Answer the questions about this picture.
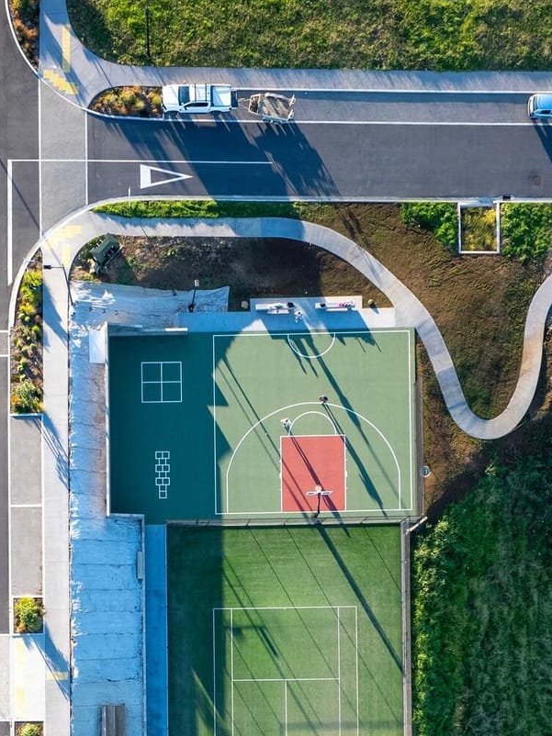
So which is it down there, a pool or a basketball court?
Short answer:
basketball court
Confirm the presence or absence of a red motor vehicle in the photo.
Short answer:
No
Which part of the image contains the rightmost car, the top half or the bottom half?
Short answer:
top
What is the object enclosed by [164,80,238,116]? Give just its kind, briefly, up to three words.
truck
